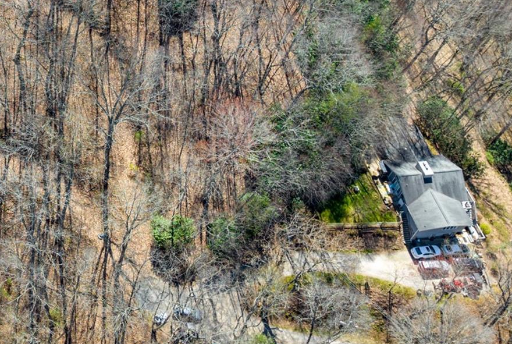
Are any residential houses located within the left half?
No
